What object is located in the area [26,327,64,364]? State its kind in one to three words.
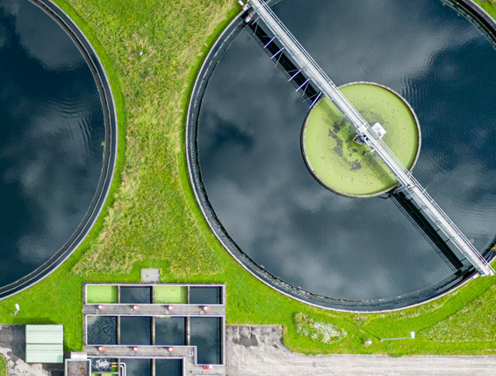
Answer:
shed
